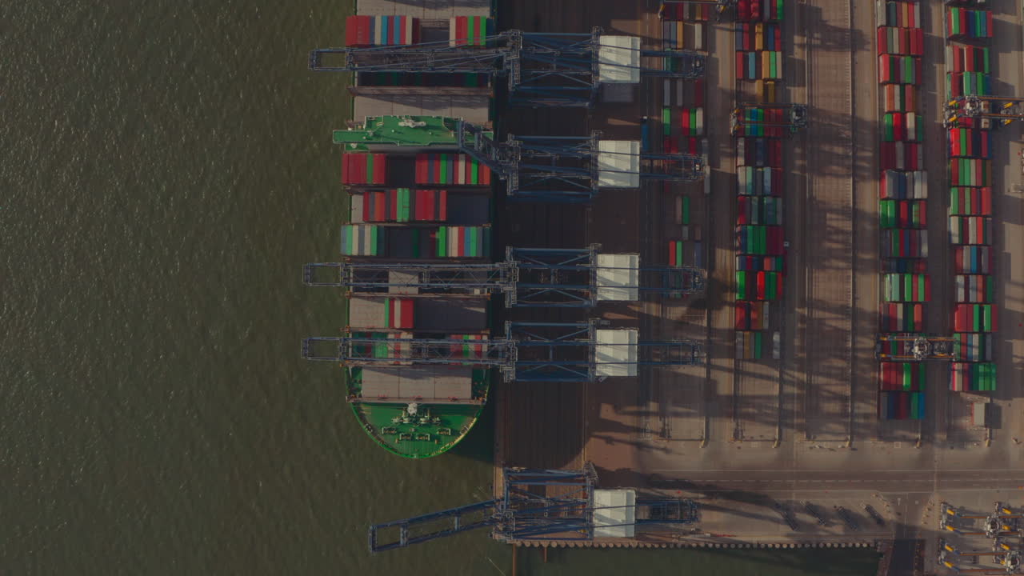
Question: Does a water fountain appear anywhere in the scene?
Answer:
No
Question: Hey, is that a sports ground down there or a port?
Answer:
port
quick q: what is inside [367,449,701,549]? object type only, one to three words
container crane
